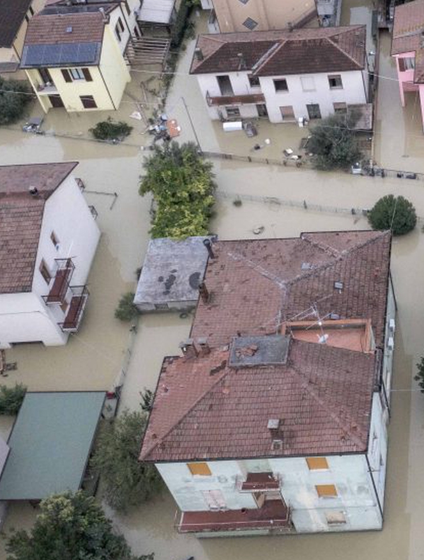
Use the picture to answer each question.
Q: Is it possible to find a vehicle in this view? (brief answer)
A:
No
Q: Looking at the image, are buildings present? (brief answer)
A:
Yes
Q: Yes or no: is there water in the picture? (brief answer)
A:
Yes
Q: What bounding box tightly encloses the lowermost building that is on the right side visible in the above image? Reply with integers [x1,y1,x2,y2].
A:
[137,229,400,536]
